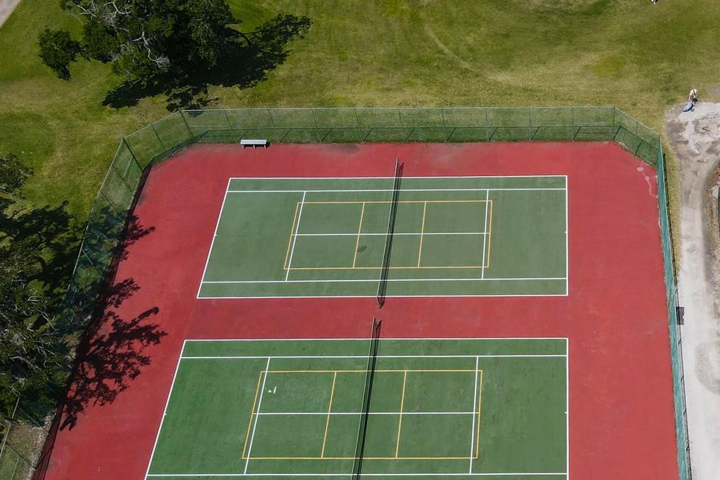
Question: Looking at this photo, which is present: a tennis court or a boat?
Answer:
tennis court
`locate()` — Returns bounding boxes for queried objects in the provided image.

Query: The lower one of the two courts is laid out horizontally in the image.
[145,337,569,480]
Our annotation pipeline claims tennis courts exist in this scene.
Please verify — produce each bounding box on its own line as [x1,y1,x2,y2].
[197,175,569,298]
[145,337,569,480]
